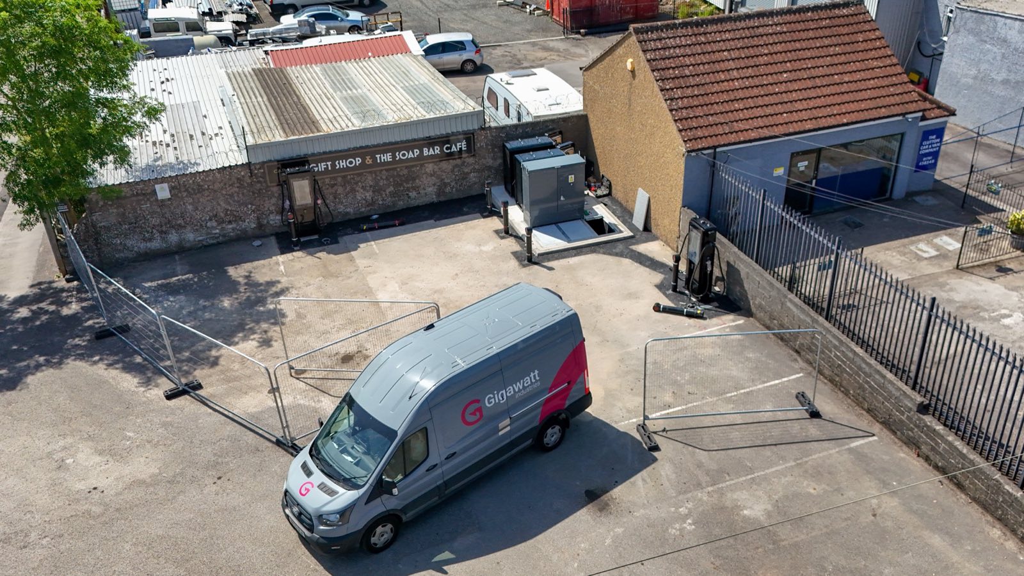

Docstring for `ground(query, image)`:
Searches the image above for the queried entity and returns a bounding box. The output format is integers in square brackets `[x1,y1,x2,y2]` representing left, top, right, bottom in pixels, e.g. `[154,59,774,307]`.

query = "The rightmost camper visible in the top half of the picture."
[484,68,580,119]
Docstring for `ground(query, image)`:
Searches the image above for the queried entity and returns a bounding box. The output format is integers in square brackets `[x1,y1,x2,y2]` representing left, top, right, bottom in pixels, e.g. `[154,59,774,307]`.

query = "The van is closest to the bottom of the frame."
[282,275,593,554]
